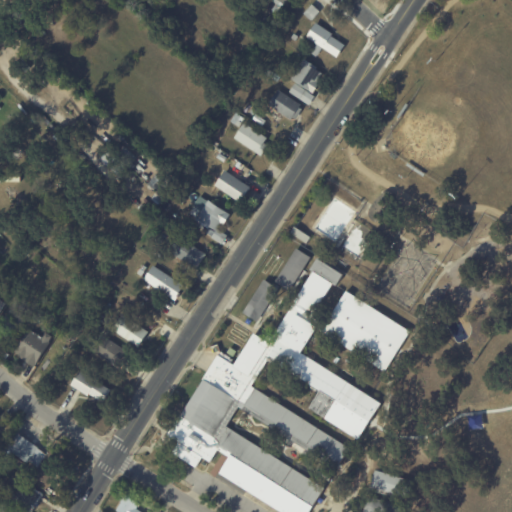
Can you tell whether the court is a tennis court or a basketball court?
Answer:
tennis court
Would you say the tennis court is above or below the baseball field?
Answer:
below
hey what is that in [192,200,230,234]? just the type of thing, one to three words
house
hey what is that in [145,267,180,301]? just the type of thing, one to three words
house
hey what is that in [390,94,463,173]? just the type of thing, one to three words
baseball field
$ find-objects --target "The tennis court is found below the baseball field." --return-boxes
[380,241,436,308]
